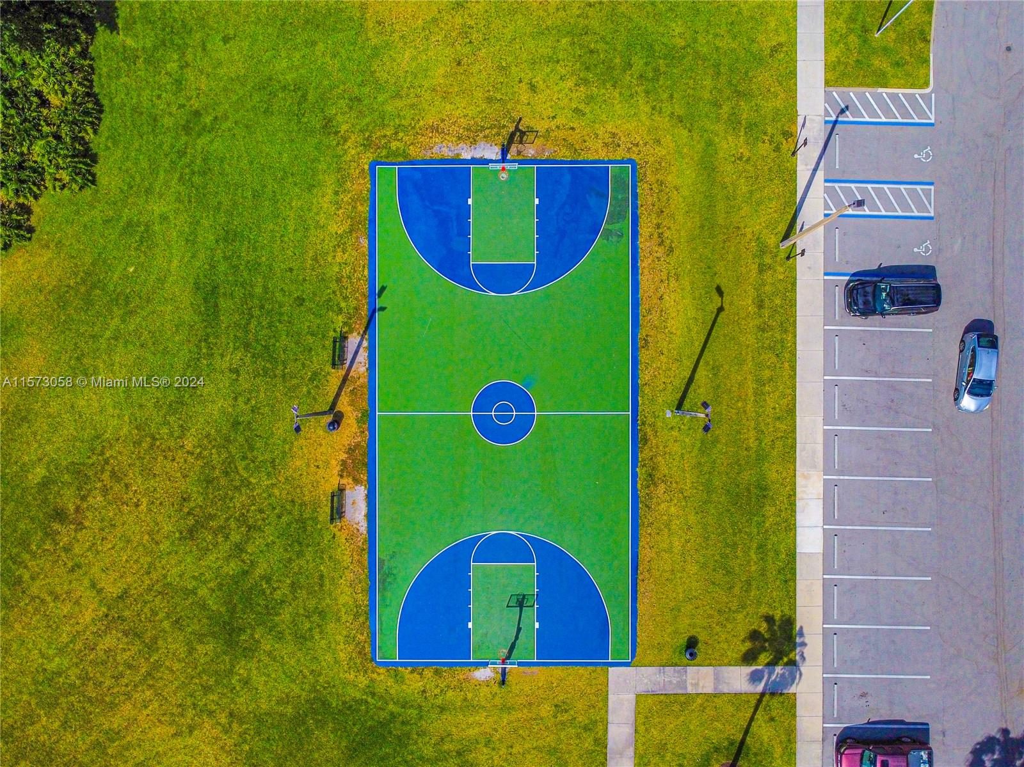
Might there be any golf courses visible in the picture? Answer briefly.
No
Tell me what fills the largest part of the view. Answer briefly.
grass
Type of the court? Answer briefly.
basketball court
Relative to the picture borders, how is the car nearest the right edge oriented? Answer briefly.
vertically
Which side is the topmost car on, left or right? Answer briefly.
right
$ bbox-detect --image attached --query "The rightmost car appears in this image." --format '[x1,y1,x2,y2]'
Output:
[955,332,999,412]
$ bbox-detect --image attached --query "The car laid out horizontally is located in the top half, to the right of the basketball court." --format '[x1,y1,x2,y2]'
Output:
[843,278,939,319]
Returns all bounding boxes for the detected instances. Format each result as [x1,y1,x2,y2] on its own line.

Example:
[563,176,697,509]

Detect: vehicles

[843,278,939,319]
[955,332,999,412]
[833,738,933,767]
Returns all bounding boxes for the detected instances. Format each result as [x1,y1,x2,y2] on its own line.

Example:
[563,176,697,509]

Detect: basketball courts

[367,157,640,667]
